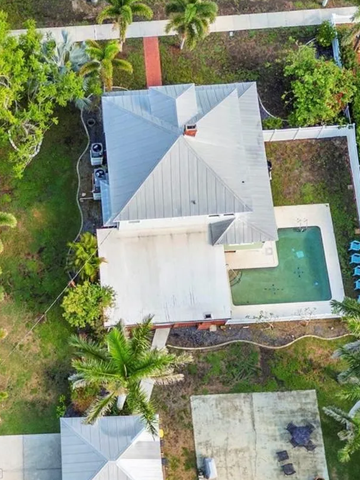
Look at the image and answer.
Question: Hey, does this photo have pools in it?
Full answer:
Yes, the image includes a pool.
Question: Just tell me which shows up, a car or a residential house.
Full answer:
Visible in the photo is a residential house.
